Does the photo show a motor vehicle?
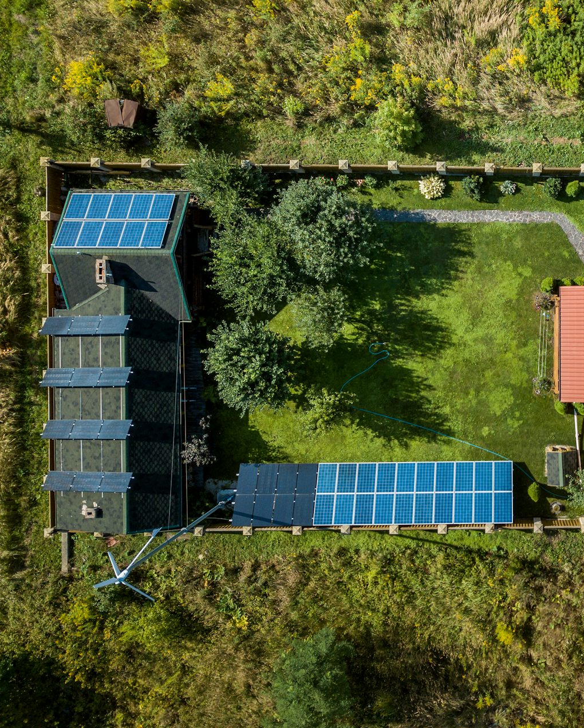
No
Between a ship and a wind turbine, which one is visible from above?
wind turbine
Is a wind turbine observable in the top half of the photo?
No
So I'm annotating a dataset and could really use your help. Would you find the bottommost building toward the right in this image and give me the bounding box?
[548,447,576,489]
